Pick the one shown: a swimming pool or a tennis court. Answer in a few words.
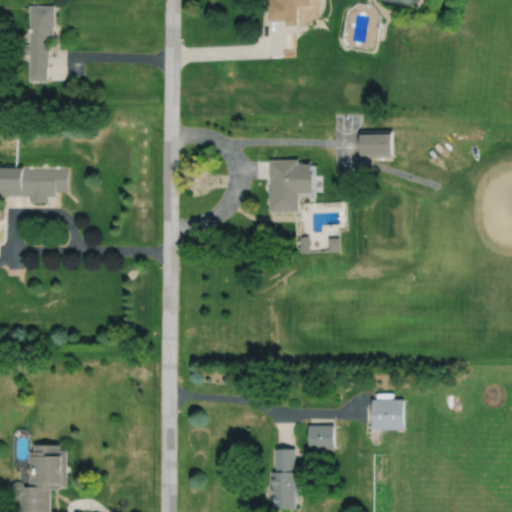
swimming pool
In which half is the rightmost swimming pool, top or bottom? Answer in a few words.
top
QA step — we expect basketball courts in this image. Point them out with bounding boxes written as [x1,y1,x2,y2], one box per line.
[336,114,363,137]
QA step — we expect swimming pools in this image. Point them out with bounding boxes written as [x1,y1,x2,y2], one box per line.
[345,3,380,51]
[14,429,32,484]
[302,202,348,252]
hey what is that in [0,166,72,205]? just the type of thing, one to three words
house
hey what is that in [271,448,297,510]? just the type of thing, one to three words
house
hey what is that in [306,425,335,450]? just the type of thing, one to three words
building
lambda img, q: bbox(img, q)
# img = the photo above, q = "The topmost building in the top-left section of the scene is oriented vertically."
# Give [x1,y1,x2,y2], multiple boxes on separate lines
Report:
[25,6,56,82]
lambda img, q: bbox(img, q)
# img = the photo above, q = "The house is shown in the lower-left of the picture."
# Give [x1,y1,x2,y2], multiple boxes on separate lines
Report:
[20,446,70,512]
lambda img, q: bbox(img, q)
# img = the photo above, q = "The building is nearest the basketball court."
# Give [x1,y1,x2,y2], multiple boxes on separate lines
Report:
[355,130,394,160]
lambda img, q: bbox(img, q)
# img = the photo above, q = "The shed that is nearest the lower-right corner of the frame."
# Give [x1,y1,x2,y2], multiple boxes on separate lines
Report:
[370,400,405,431]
